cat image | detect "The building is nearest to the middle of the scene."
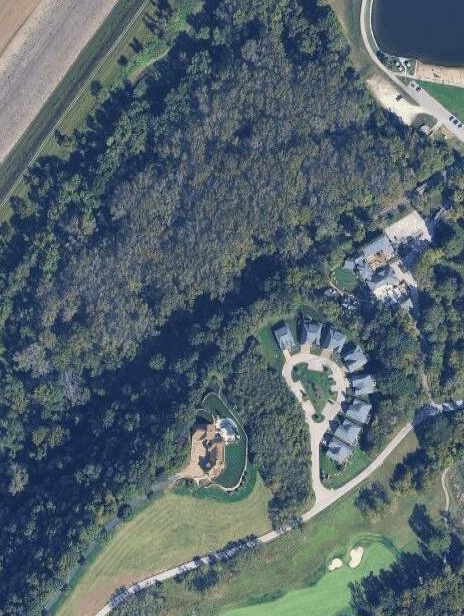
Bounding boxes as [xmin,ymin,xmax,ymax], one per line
[273,320,294,350]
